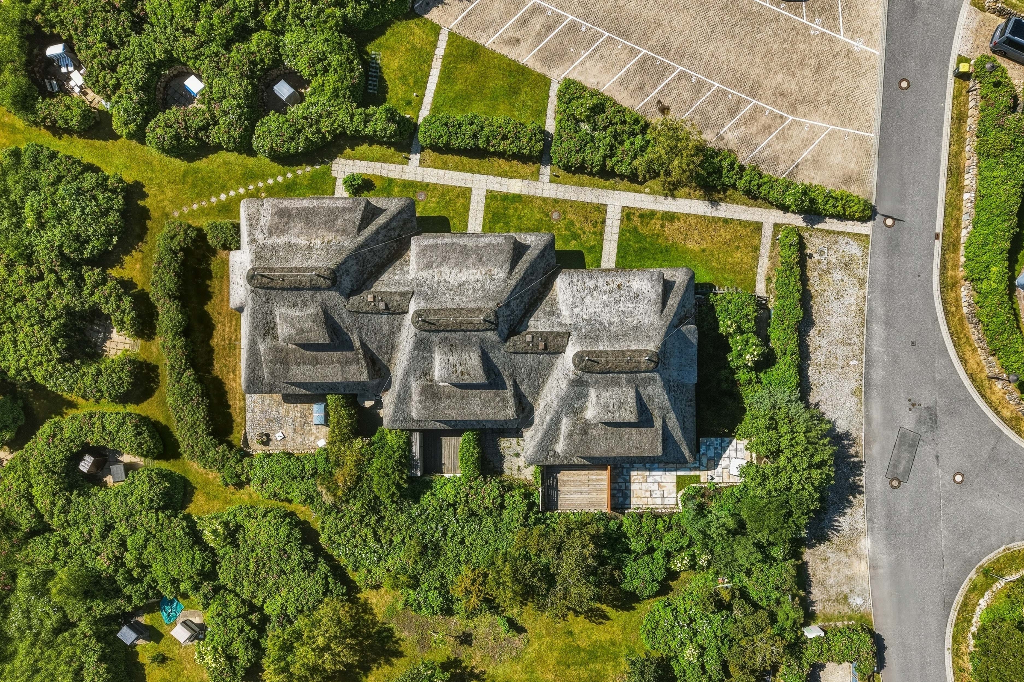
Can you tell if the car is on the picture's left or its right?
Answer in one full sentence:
The car appears in the right half of the scene.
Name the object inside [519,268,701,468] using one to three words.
house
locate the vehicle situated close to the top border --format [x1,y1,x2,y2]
[991,18,1024,59]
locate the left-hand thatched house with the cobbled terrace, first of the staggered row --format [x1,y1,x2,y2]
[230,198,421,394]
